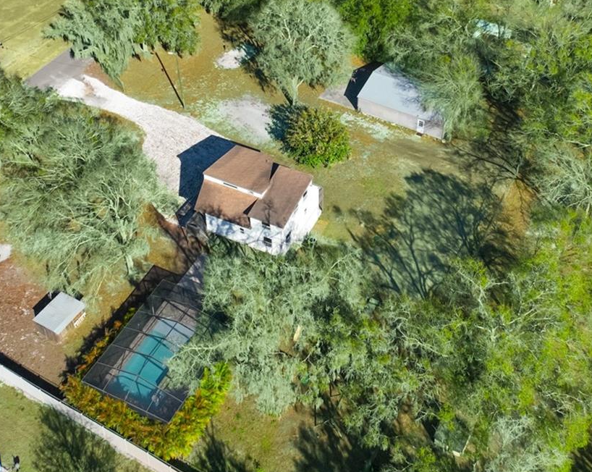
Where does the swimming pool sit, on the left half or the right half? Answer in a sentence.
The swimming pool is on the left side of the image.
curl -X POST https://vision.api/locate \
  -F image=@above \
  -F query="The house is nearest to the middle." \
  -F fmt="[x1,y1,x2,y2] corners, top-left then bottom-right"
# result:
[192,145,323,255]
